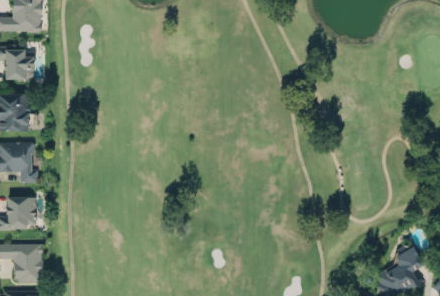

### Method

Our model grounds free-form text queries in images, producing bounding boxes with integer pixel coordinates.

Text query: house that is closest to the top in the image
[0,0,42,32]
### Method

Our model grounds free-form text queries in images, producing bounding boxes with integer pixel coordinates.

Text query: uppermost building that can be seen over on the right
[386,244,431,279]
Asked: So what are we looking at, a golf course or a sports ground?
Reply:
golf course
